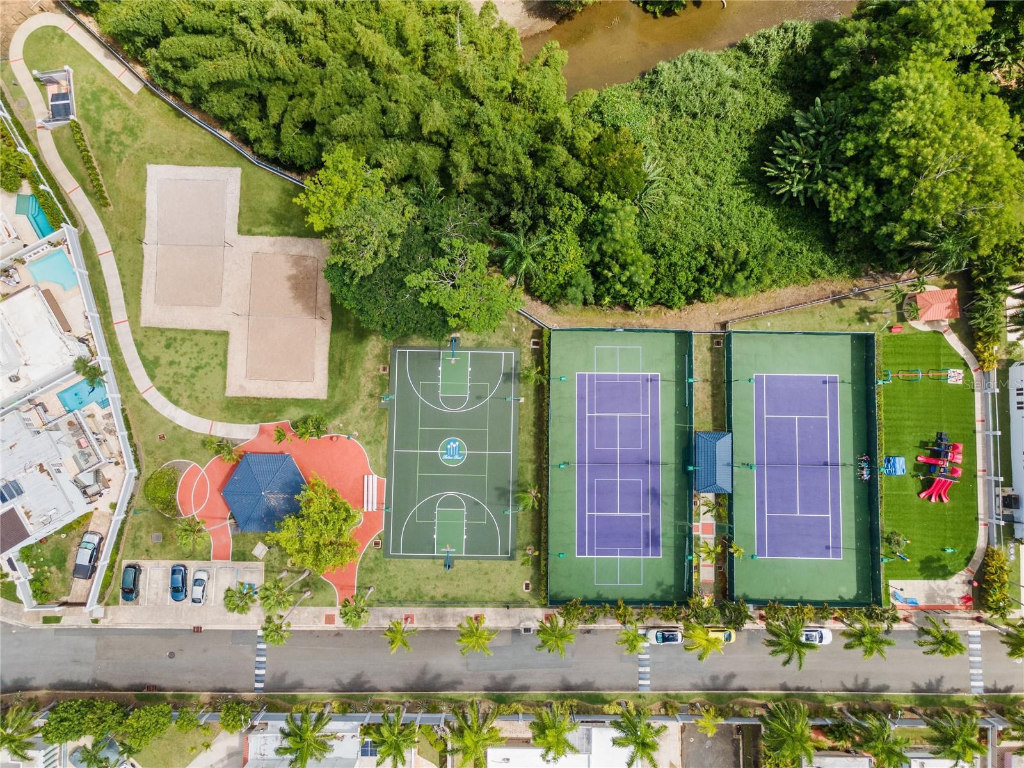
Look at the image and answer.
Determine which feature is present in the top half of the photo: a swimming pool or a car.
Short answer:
swimming pool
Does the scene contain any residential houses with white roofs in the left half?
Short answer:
Yes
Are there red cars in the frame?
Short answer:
No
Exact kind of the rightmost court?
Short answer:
tennis court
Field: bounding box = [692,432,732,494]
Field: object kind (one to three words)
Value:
building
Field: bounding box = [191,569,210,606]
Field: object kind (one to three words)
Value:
car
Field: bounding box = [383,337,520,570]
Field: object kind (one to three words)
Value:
basketball court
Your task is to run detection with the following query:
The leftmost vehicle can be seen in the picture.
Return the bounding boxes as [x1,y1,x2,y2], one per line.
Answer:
[72,532,101,579]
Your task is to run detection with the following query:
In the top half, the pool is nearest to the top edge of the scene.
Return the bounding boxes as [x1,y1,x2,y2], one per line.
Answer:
[14,193,54,239]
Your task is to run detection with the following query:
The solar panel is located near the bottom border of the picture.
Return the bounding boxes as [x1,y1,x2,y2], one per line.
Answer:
[361,737,377,756]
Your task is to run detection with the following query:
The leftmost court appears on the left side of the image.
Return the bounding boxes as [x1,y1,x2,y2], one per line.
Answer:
[141,164,241,329]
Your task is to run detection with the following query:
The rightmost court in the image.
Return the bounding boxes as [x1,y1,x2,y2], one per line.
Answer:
[725,334,872,602]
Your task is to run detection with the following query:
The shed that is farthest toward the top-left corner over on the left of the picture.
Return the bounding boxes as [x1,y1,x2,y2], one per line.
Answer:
[36,63,77,127]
